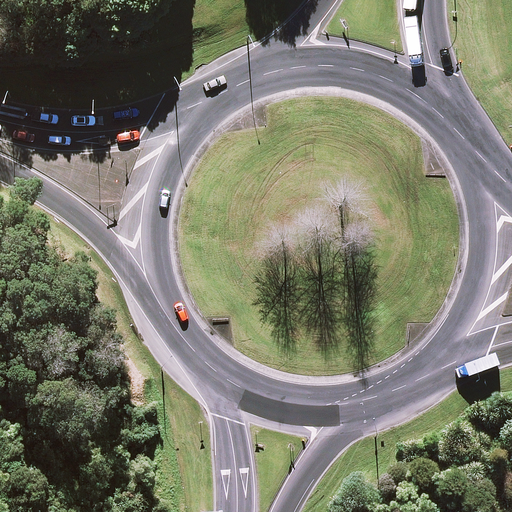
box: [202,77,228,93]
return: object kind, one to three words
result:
car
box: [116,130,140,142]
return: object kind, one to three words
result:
vehicle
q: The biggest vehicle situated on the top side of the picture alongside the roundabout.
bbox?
[403,15,424,66]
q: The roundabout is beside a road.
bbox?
[134,46,507,421]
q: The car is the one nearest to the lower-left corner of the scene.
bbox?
[174,300,188,322]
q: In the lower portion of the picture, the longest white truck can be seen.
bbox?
[456,352,500,380]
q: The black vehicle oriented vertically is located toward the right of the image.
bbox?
[440,47,454,74]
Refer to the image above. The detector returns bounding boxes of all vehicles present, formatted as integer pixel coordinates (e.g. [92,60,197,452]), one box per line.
[48,135,71,146]
[38,112,61,124]
[456,352,500,380]
[160,188,170,209]
[403,15,424,66]
[202,77,228,93]
[440,47,454,74]
[404,0,418,12]
[116,130,140,142]
[72,115,96,126]
[174,300,188,322]
[12,130,35,142]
